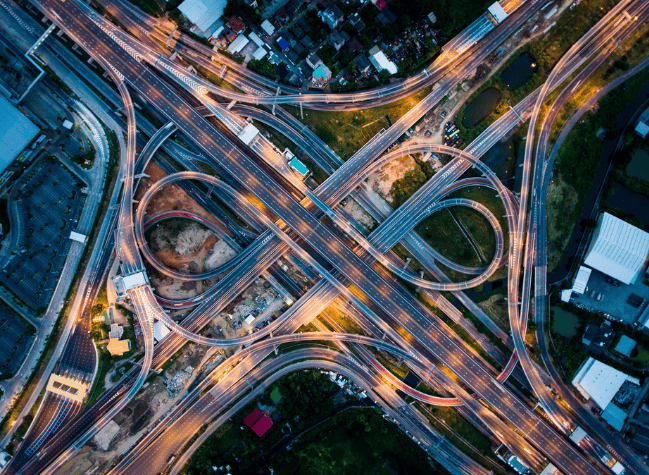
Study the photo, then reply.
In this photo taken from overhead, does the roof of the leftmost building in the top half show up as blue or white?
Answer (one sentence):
The roof of the leftmost building in the top half is blue.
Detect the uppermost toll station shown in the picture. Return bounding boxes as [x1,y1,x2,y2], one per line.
[480,0,511,29]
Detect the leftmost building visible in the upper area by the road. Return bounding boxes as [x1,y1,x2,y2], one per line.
[0,82,51,178]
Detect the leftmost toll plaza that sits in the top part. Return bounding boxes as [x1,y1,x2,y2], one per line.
[235,120,266,150]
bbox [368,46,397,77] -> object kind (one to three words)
house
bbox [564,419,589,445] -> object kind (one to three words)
toll station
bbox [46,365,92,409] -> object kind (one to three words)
toll station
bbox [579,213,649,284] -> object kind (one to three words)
building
